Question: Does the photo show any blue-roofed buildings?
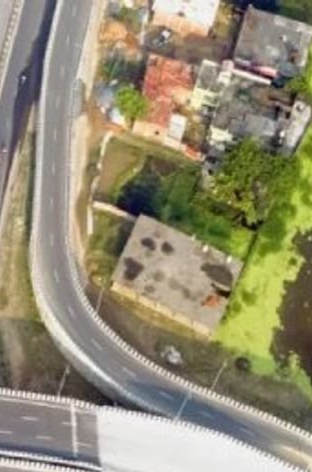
No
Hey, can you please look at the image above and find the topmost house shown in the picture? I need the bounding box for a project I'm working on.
[152,0,218,41]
